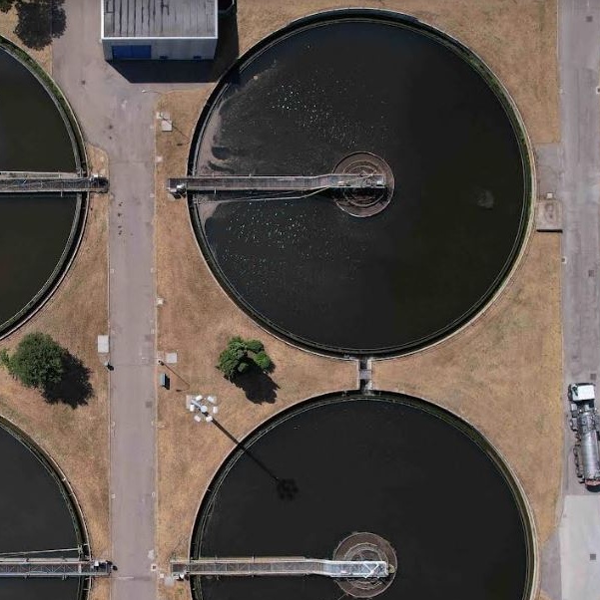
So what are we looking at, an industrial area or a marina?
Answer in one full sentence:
It's an industrial area.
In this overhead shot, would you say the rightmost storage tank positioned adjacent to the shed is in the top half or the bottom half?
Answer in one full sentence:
The rightmost storage tank positioned adjacent to the shed is in the top half of the image.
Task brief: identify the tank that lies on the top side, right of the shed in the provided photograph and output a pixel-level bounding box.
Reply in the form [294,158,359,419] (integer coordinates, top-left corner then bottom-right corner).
[187,9,538,360]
